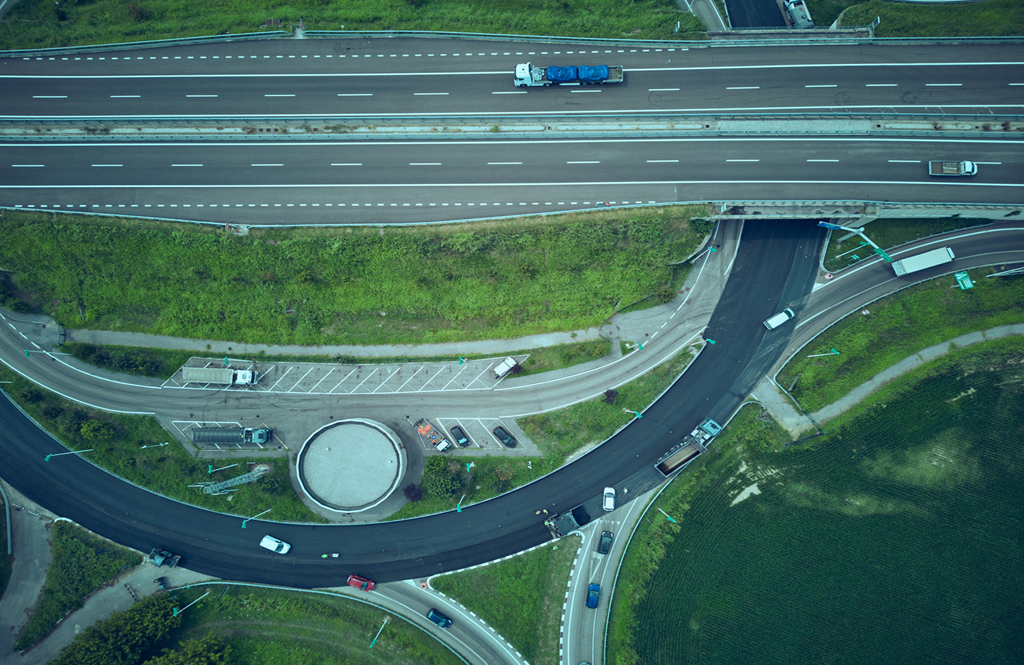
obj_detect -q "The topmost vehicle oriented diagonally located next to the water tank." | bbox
[413,417,451,455]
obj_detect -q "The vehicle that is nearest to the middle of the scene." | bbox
[493,354,519,381]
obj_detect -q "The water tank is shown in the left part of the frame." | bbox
[296,419,406,513]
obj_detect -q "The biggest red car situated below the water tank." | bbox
[346,573,376,592]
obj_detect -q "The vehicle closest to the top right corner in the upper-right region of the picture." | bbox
[929,161,977,178]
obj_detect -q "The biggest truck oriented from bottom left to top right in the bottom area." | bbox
[655,417,724,480]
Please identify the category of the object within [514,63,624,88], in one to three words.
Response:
truck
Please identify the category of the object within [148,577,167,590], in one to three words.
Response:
vehicle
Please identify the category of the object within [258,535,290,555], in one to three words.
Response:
vehicle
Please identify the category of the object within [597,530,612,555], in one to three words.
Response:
car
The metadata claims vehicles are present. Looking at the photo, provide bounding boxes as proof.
[177,368,262,389]
[187,427,274,446]
[602,486,616,511]
[451,426,469,449]
[148,577,167,590]
[146,548,183,571]
[763,307,795,331]
[493,354,519,381]
[346,573,376,592]
[586,582,601,609]
[425,607,453,629]
[493,425,516,449]
[514,63,624,88]
[597,530,612,555]
[655,417,724,480]
[596,200,609,208]
[413,417,451,455]
[892,244,960,277]
[929,161,977,178]
[258,535,290,555]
